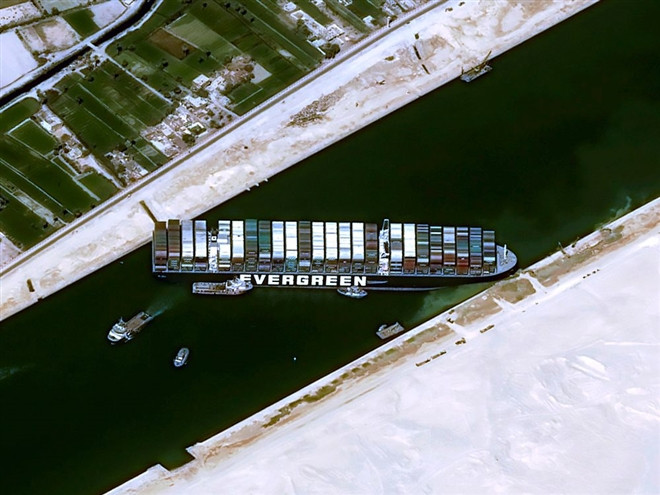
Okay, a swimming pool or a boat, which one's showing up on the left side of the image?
boat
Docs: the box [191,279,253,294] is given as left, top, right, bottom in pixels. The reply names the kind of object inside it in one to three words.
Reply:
boat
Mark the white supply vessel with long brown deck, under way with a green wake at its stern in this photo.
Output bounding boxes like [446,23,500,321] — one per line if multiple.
[108,307,154,338]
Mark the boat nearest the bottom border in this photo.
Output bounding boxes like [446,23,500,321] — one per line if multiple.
[173,346,191,366]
